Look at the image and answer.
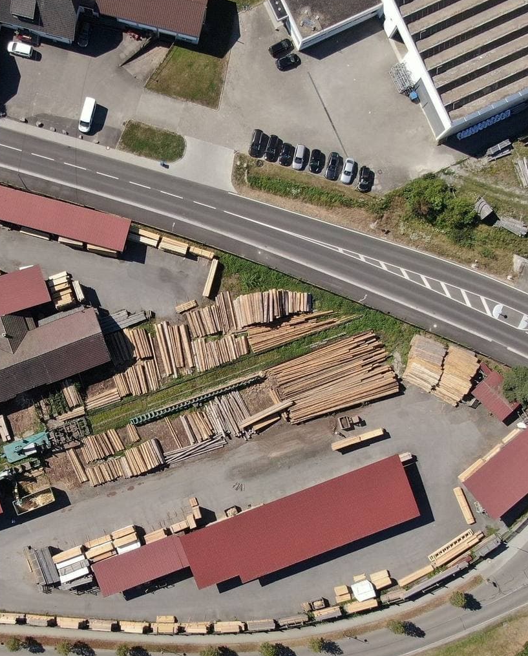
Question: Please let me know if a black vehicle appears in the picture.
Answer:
Yes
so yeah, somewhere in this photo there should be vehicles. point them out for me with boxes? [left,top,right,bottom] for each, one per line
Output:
[18,34,30,43]
[267,40,293,60]
[340,158,355,186]
[265,135,280,164]
[8,42,34,58]
[355,166,371,193]
[79,97,97,134]
[279,143,294,168]
[275,55,301,73]
[250,130,266,159]
[292,143,308,172]
[307,149,322,176]
[324,152,341,182]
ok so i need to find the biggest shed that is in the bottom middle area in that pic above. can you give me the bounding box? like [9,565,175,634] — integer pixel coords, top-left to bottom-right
[178,454,420,589]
